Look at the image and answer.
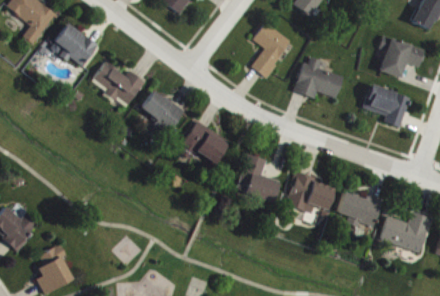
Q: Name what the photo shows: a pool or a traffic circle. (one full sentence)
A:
The image shows a pool.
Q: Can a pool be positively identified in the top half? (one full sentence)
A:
Yes, in the top half there is a pool.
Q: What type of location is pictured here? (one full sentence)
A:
This image shows a residential area.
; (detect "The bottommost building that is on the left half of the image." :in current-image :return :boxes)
[38,246,74,295]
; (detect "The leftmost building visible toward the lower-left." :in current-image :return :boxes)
[0,208,33,252]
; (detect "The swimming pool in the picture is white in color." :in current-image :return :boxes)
[32,47,81,85]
